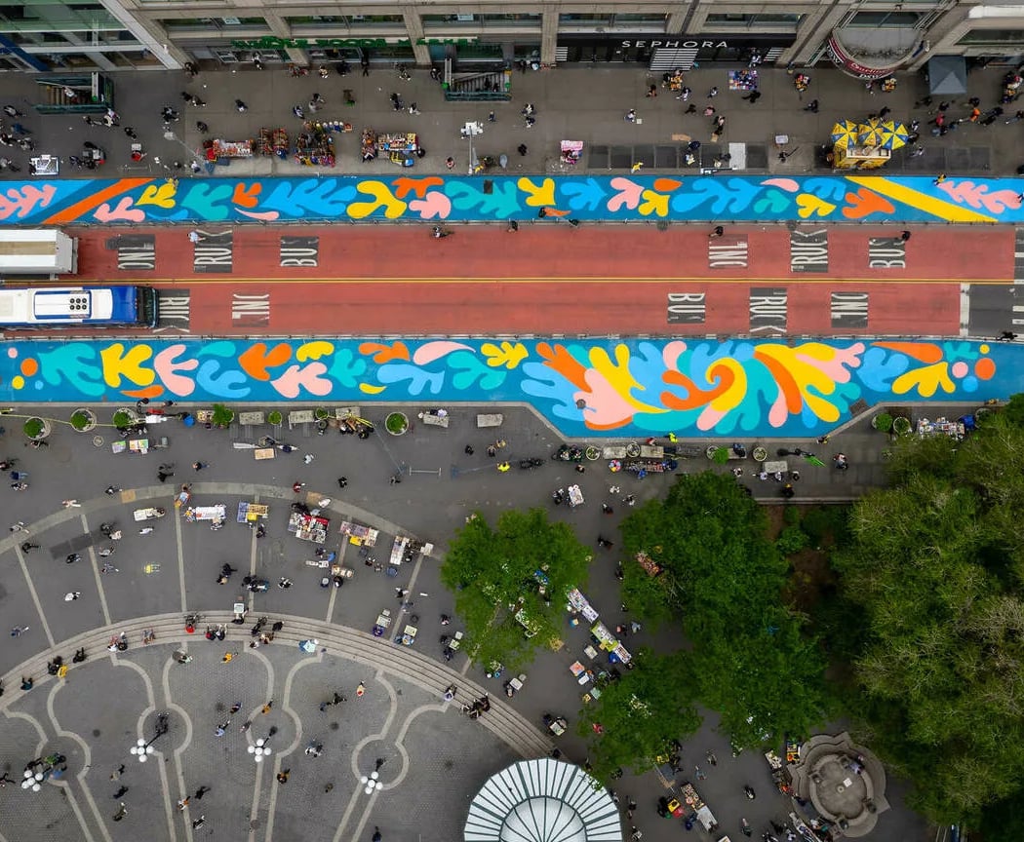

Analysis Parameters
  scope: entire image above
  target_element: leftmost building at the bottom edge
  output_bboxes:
[464,757,622,842]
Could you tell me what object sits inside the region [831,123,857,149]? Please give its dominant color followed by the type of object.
yellow umbrella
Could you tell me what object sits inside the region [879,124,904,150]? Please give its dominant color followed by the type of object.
yellow umbrella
